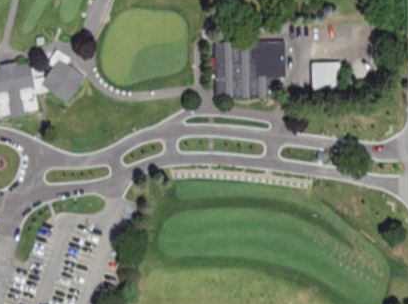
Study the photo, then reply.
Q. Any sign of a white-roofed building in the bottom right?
No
